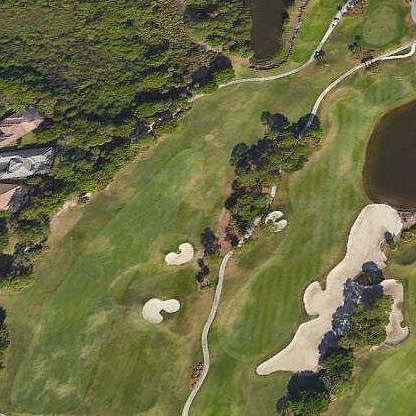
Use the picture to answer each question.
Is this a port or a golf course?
golf course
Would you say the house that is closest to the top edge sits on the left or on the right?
left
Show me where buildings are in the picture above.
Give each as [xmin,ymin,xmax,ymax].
[0,186,19,215]
[0,148,54,184]
[0,107,44,152]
